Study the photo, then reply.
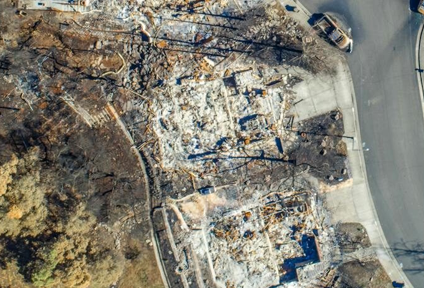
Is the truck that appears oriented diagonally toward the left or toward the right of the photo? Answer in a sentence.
It is on the right.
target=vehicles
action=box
[416,0,424,15]
[312,14,349,53]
